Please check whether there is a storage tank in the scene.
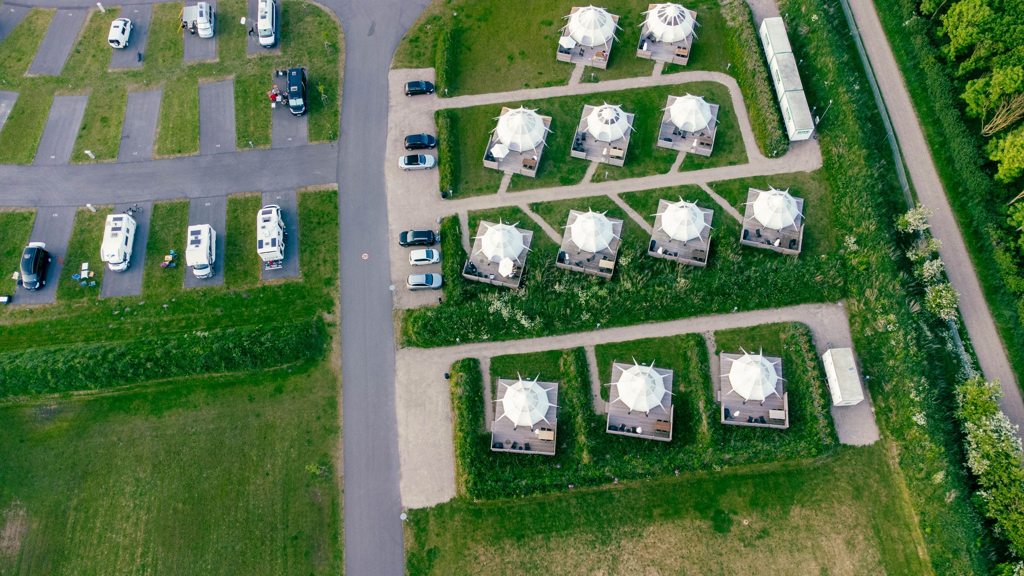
No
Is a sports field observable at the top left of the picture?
Yes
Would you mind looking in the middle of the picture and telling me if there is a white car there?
Yes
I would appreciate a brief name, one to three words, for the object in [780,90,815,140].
building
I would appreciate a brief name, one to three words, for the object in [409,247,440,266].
car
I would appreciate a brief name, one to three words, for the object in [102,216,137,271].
camper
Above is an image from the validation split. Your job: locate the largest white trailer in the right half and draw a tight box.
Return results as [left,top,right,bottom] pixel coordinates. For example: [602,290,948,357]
[823,343,865,406]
